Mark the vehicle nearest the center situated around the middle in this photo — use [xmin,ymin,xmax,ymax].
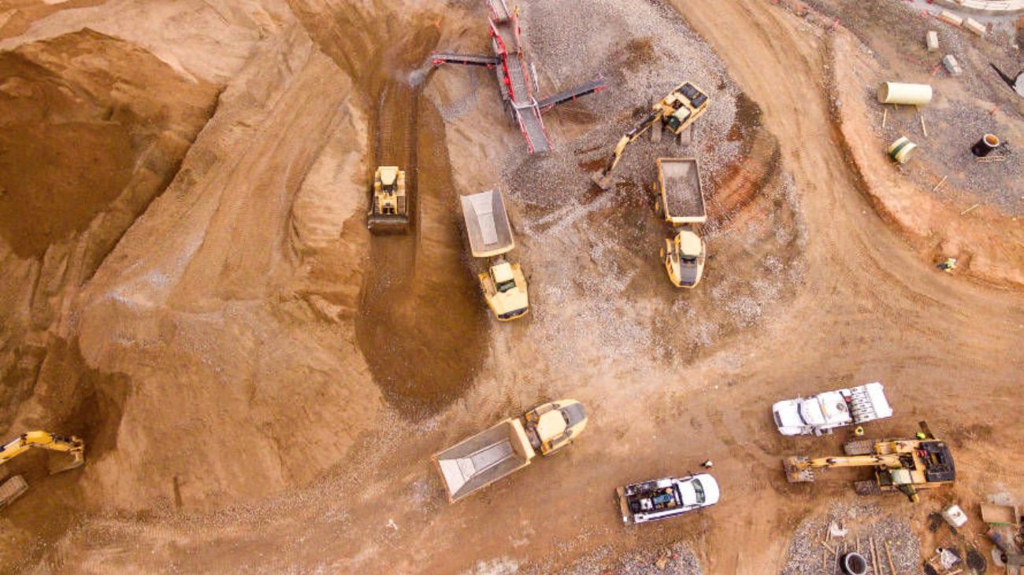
[459,188,534,327]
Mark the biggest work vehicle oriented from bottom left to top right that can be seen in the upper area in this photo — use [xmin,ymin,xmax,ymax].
[592,80,717,192]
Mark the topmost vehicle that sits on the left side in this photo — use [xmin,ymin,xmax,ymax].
[366,163,409,231]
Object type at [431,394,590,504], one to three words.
truck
